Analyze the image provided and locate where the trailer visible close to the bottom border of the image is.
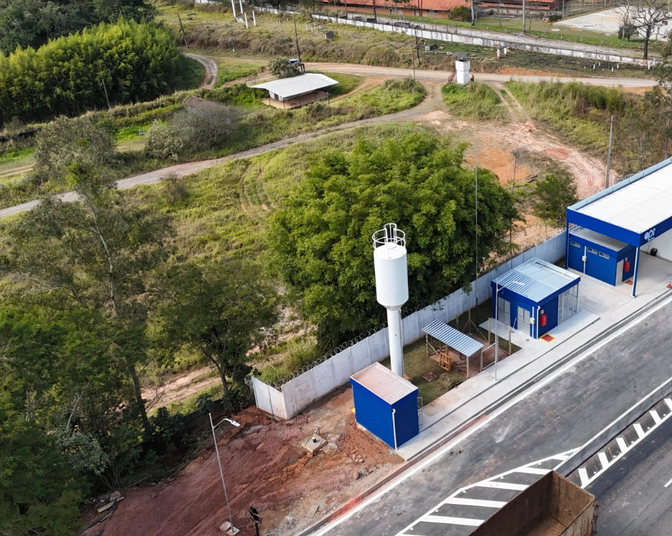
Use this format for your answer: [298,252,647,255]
[468,468,597,536]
